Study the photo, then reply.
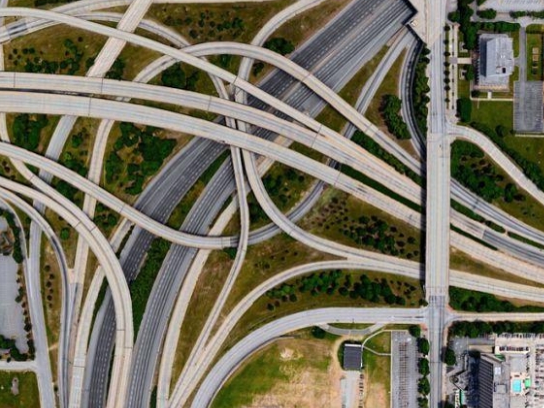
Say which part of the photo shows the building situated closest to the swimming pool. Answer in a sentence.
The building situated closest to the swimming pool sits in the bottom right section of the image.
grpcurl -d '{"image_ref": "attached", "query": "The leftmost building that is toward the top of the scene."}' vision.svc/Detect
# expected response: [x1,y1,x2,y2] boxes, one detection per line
[475,35,513,91]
